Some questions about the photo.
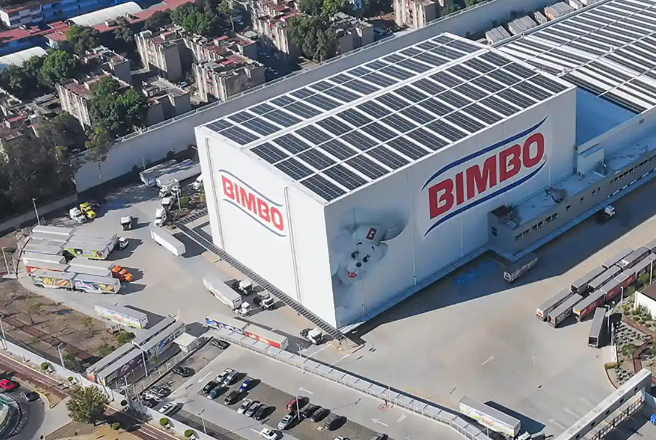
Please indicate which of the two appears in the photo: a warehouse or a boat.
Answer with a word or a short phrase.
warehouse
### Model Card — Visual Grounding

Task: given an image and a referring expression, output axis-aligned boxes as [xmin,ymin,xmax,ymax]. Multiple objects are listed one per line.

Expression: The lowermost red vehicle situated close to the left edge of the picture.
[0,377,18,393]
